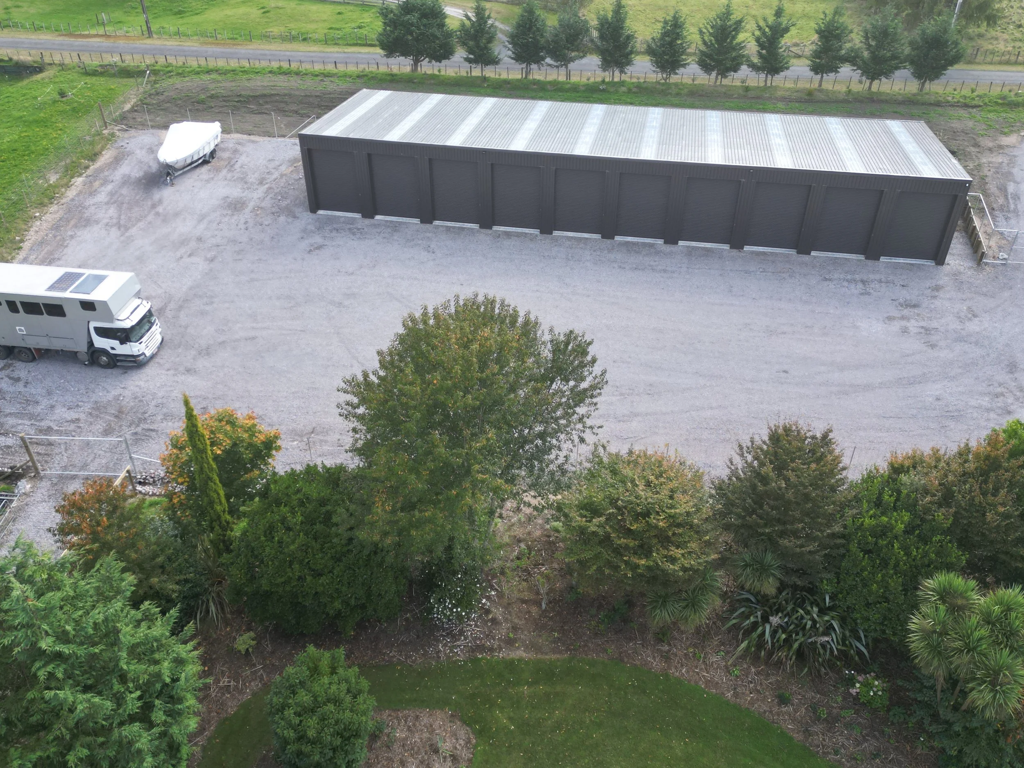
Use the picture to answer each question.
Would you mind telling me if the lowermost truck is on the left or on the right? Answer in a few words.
left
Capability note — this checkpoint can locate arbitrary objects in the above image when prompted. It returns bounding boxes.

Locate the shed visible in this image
[296,87,974,266]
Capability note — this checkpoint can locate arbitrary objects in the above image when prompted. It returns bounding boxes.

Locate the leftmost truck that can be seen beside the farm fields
[0,263,167,368]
